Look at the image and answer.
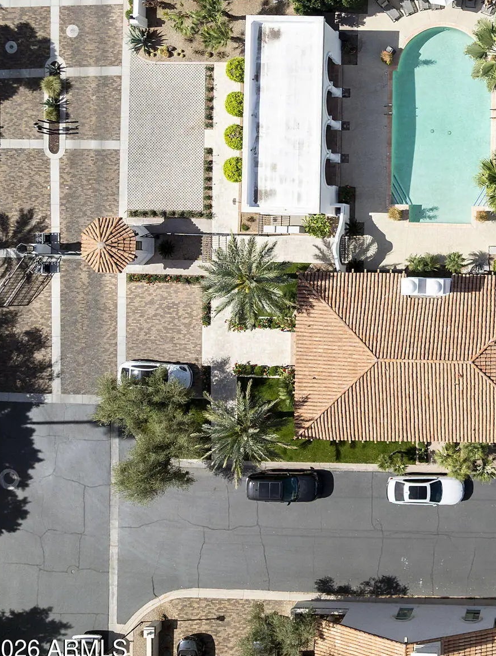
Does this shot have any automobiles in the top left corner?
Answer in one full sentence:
No, no automobile is visible in the top left corner.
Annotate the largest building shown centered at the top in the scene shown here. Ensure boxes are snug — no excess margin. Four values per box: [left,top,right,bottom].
[242,16,351,215]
